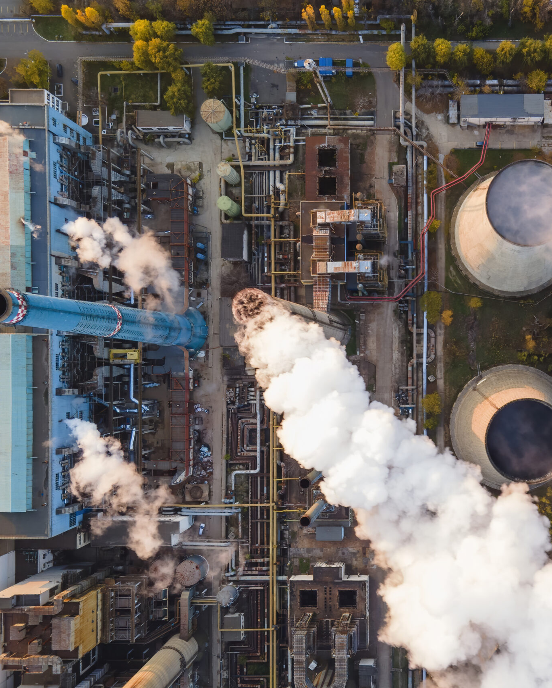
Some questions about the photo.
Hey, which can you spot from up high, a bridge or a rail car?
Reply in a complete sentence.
The image shows a bridge.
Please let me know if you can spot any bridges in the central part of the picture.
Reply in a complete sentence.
No, there's no bridge to be seen in the central part of the picture.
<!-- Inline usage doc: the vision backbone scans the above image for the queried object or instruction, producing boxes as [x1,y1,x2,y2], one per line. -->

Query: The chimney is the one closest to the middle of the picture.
[231,291,354,351]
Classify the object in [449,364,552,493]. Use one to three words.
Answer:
cooling tower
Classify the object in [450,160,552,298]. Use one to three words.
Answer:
cooling tower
